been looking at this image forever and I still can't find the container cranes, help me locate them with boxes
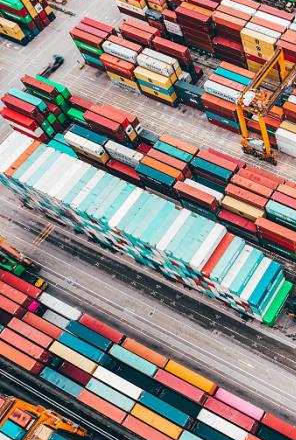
[231,45,296,165]
[0,389,98,440]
